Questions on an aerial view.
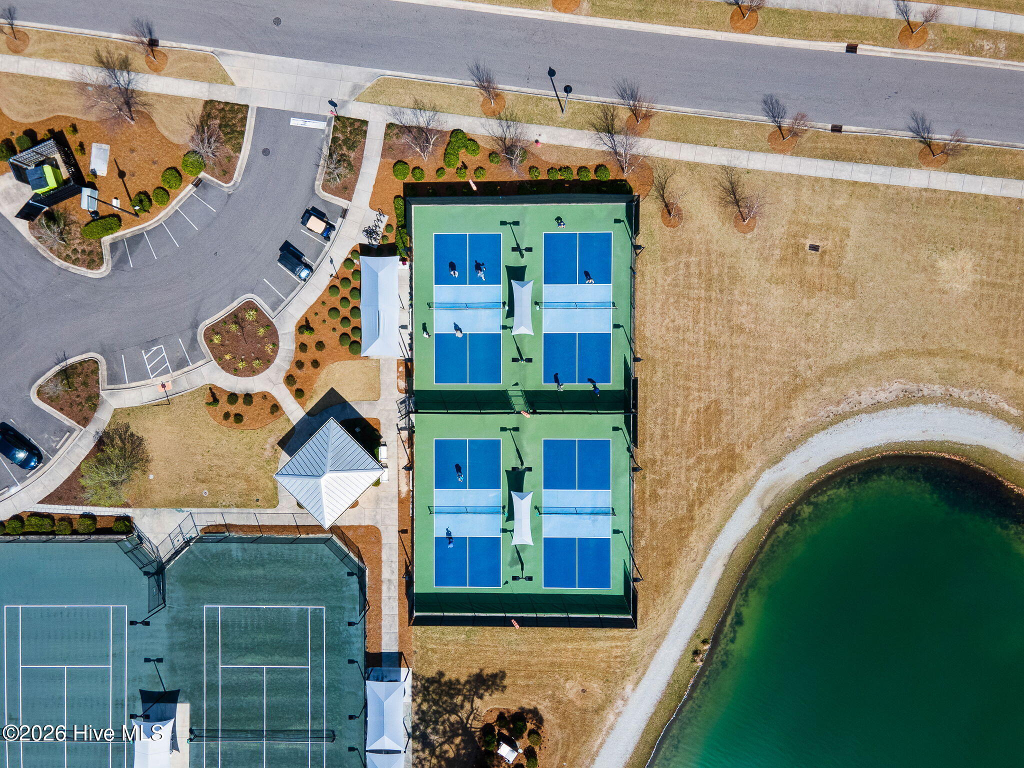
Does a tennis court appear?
Yes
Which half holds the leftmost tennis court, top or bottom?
bottom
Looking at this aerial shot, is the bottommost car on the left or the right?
left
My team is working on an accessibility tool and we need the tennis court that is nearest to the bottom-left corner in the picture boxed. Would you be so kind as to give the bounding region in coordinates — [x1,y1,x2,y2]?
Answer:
[0,541,165,768]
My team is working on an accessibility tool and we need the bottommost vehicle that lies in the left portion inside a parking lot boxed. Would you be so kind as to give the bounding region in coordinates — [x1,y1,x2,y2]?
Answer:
[0,427,42,471]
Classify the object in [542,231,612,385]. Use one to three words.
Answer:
sports court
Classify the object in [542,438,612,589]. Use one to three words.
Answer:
sports court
